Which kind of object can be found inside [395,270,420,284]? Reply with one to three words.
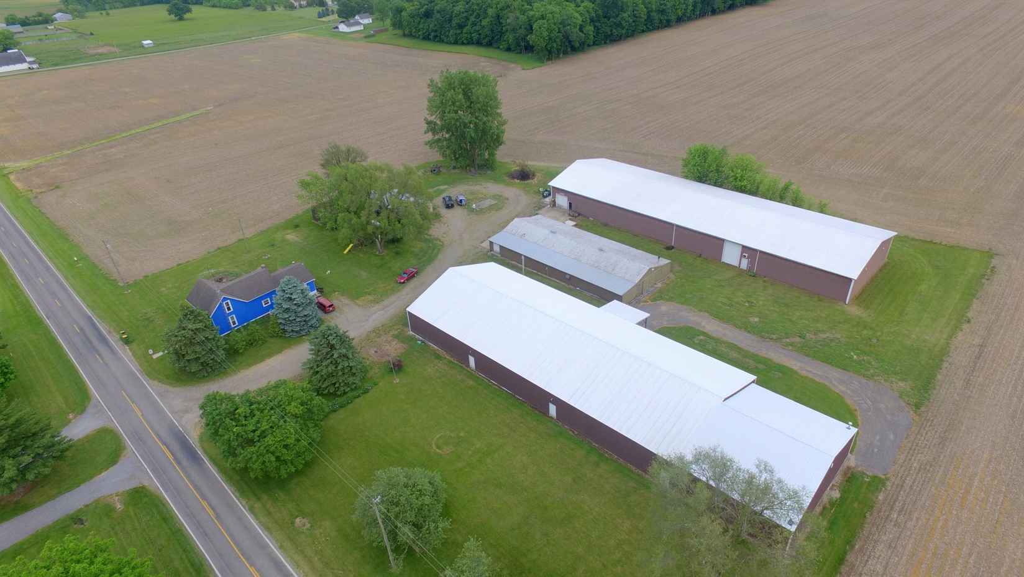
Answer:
car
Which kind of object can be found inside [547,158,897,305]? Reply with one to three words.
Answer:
barn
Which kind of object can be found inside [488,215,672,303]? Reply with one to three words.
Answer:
shed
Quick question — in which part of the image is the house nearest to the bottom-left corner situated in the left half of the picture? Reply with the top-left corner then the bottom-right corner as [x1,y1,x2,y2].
[187,262,332,334]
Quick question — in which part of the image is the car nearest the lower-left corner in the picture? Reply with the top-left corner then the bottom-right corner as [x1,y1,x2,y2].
[314,296,336,312]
